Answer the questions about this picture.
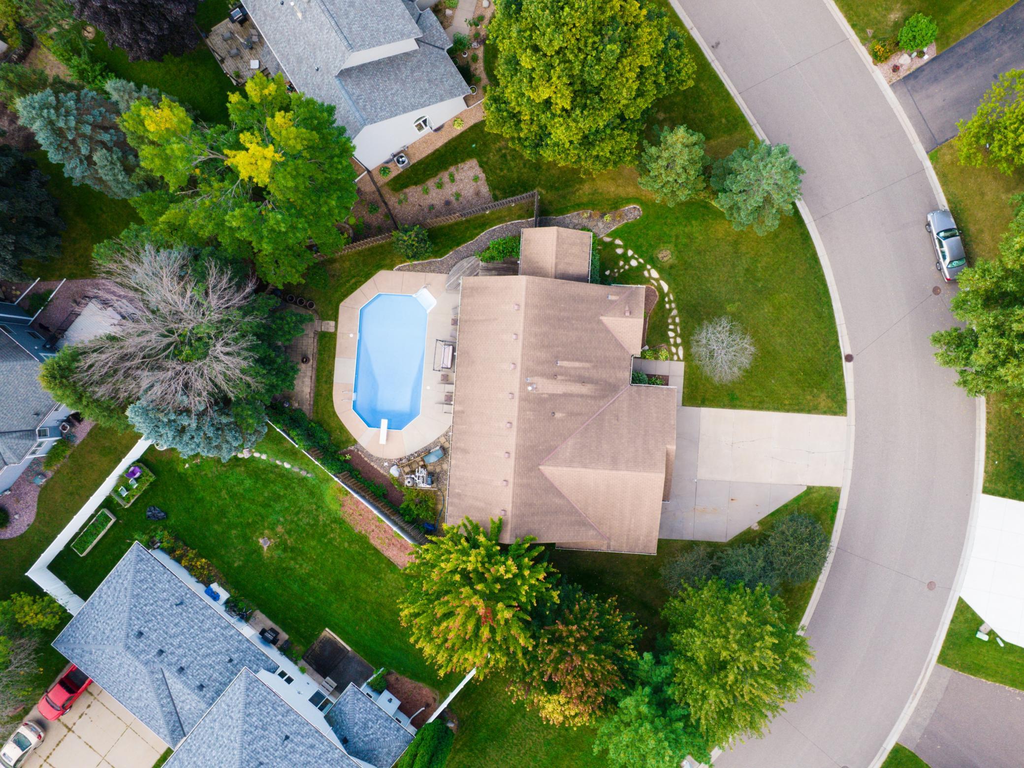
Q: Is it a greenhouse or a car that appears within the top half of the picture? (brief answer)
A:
car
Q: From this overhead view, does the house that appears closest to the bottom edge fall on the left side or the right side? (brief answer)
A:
left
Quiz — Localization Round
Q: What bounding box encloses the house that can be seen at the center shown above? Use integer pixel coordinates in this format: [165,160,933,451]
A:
[442,226,678,556]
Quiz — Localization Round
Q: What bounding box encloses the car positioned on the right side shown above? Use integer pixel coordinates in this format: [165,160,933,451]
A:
[927,204,976,281]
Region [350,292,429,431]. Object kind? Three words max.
swimming pool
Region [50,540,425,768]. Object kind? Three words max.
house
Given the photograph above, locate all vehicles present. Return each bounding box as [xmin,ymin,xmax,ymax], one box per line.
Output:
[927,204,976,281]
[37,664,93,726]
[0,715,49,768]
